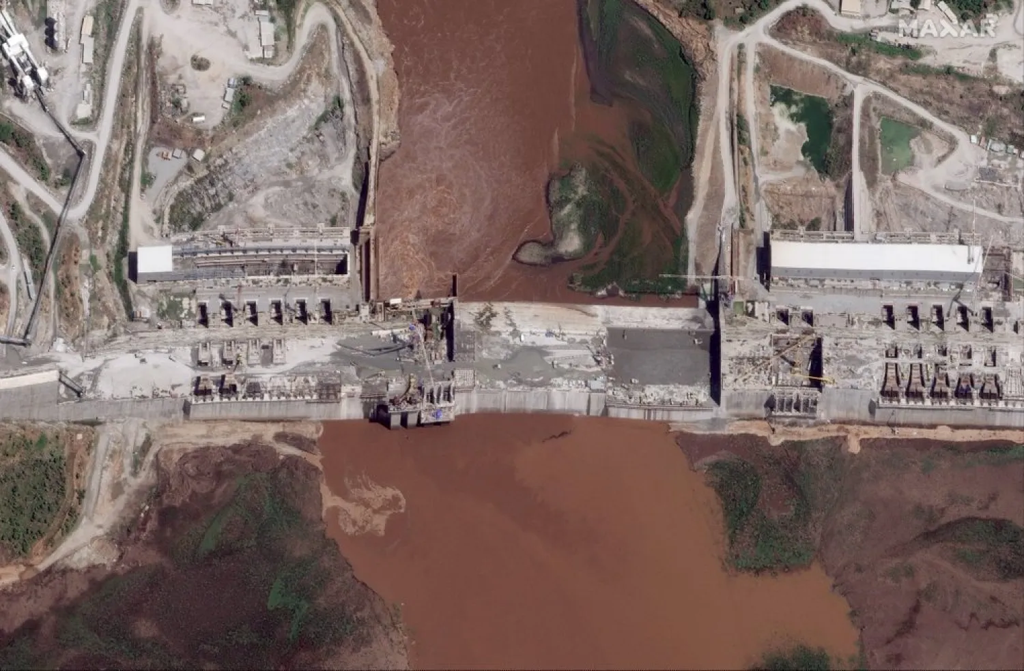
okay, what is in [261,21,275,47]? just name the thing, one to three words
building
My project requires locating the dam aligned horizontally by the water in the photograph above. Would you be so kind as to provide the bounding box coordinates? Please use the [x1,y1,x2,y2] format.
[0,300,1024,426]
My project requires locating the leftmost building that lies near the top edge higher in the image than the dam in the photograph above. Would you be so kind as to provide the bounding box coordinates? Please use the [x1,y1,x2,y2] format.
[0,2,49,97]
